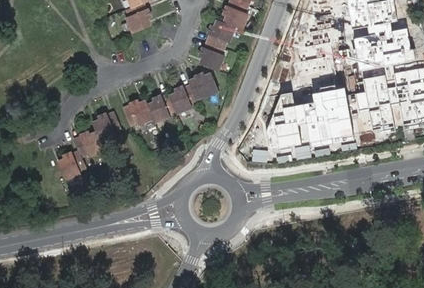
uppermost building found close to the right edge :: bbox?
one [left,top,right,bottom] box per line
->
[348,0,424,79]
